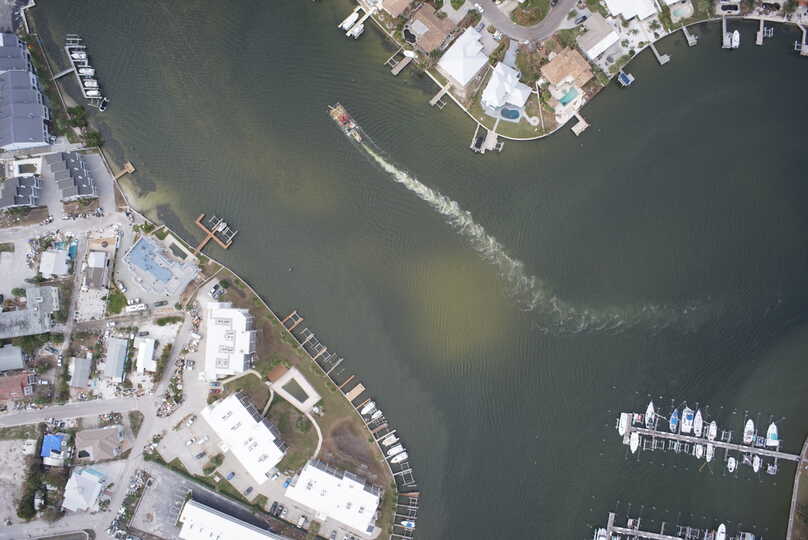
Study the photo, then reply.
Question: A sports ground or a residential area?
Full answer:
This image shows a residential area.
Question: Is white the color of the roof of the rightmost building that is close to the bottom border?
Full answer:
Yes, the roof of the rightmost building that is close to the bottom border is indeed white.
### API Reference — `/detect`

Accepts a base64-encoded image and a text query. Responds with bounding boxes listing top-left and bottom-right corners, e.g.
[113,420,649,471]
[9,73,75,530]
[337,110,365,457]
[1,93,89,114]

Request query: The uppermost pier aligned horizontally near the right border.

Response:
[624,413,801,464]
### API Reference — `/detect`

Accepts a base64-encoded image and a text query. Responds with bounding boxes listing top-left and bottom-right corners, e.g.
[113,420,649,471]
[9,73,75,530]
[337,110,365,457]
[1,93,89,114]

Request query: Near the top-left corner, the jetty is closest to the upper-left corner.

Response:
[54,44,103,99]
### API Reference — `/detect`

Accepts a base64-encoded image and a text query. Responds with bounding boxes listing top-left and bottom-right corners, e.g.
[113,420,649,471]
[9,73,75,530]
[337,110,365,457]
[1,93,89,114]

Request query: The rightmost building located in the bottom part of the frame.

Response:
[284,456,381,534]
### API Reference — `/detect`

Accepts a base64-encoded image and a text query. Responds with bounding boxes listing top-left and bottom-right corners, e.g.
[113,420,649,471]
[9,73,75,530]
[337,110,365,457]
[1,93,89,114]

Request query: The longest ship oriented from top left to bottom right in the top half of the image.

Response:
[325,101,357,135]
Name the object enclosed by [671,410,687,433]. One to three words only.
boat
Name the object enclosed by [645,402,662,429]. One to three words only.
boat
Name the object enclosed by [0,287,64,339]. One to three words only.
building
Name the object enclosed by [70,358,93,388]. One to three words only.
house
